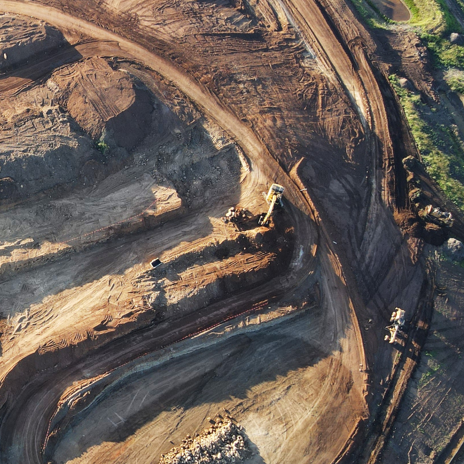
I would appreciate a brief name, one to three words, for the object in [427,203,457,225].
work vehicle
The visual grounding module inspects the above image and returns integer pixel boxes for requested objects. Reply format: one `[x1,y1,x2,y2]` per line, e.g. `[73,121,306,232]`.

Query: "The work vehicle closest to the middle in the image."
[262,178,288,223]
